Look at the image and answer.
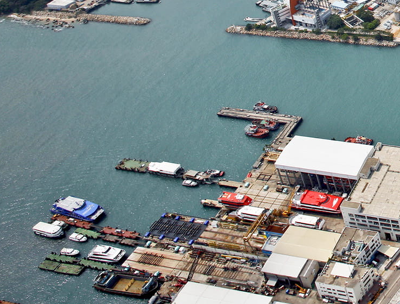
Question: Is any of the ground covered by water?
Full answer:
Yes, there is water in the image.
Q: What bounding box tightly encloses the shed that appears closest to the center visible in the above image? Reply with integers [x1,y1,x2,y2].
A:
[147,162,184,181]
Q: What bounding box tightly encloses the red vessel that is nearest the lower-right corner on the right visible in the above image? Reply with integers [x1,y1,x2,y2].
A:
[291,191,342,214]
